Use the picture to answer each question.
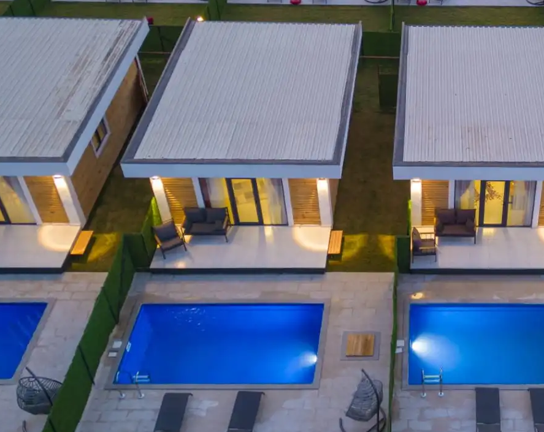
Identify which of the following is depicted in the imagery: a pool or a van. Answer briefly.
pool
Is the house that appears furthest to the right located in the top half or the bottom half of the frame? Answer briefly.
top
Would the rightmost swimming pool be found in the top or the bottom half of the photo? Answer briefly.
bottom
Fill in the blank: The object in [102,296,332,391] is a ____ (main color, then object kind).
blue swimming pool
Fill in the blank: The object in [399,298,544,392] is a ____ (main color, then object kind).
blue swimming pool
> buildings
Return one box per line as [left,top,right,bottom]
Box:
[0,16,150,273]
[124,18,361,275]
[392,21,544,276]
